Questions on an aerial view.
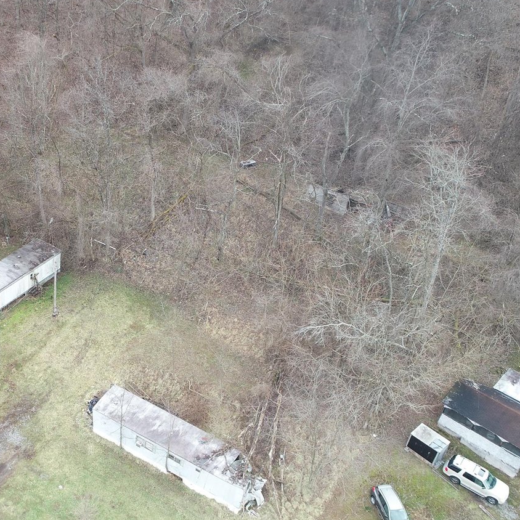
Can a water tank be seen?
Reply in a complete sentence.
No, this view has no water tank in it.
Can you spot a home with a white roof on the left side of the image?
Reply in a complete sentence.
Yes, a home with a white roof shows up on the left side of the image.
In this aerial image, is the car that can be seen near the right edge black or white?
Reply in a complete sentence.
The color of the car that can be seen near the right edge is white.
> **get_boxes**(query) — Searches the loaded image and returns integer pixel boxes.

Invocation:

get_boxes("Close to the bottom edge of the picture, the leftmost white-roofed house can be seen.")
[92,386,257,515]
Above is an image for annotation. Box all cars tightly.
[372,483,411,520]
[445,459,510,506]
